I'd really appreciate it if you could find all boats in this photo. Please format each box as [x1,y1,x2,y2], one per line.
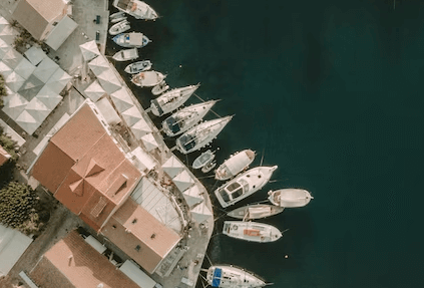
[110,19,133,34]
[152,81,172,94]
[111,13,131,21]
[202,159,217,171]
[117,59,155,72]
[111,31,150,49]
[192,147,217,166]
[144,84,202,115]
[210,164,282,208]
[128,68,167,88]
[199,257,270,288]
[200,150,260,195]
[237,186,314,208]
[214,201,285,220]
[110,48,140,62]
[167,112,238,159]
[158,99,220,136]
[209,217,282,241]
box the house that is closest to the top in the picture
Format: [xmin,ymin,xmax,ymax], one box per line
[14,0,72,39]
